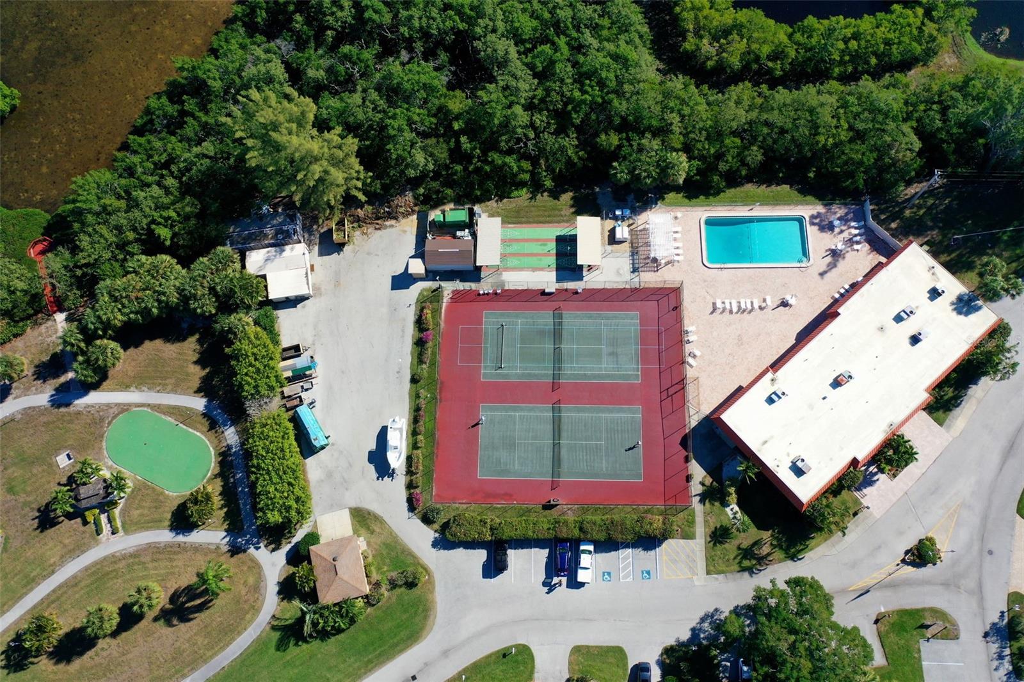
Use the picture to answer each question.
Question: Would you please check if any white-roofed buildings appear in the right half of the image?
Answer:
Yes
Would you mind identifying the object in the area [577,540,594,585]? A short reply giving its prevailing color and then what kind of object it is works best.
white vehicle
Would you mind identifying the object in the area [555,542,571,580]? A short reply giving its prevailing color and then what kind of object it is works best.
blue car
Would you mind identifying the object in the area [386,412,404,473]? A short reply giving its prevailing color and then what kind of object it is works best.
white boat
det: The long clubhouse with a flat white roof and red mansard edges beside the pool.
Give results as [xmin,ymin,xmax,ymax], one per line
[708,242,1000,513]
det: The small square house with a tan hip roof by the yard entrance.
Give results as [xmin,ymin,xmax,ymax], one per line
[310,536,367,604]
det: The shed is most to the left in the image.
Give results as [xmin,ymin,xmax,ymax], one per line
[60,478,104,515]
